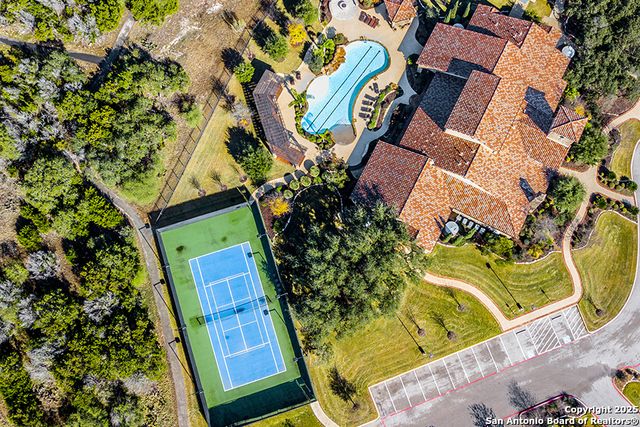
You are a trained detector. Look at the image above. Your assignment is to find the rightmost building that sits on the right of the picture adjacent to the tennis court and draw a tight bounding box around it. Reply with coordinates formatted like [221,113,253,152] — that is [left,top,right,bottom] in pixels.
[345,8,588,252]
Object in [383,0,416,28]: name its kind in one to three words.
building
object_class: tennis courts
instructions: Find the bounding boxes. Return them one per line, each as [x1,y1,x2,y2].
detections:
[158,203,314,427]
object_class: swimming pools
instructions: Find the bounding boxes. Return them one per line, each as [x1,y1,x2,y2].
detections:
[300,38,391,144]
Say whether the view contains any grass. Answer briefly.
Yes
